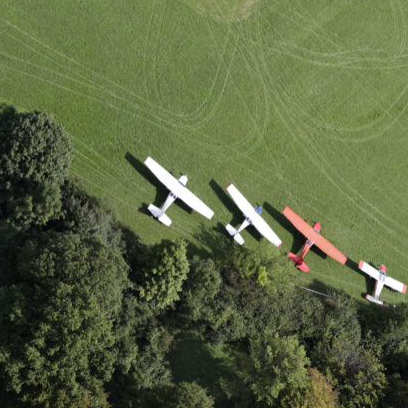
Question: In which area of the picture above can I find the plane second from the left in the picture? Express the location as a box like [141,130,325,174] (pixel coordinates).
[223,184,283,245]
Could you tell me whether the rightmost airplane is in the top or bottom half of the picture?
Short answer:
bottom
